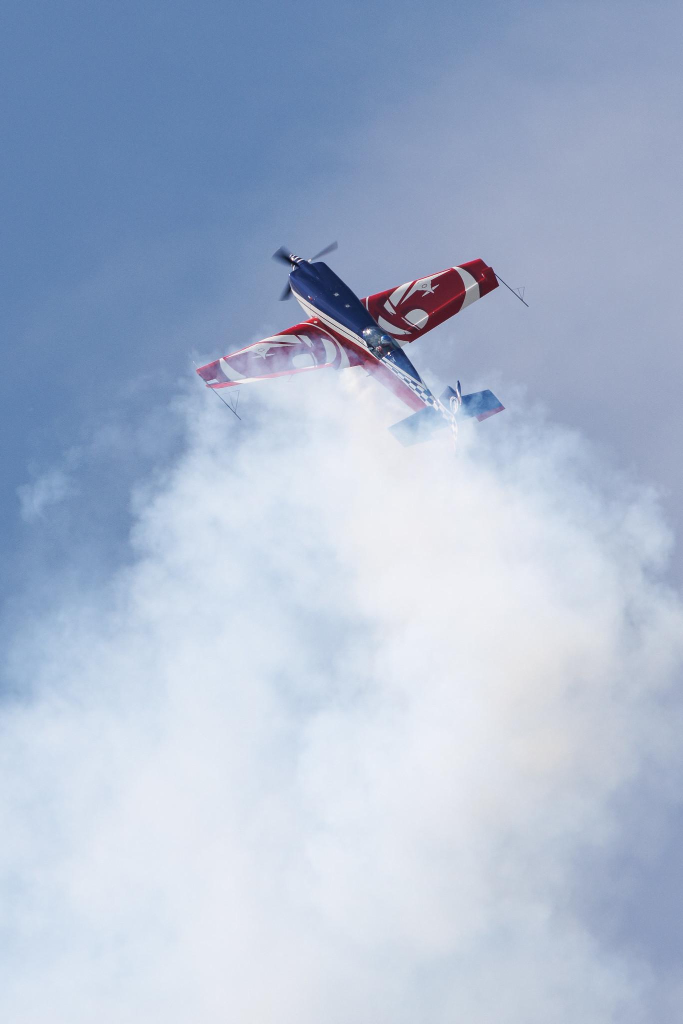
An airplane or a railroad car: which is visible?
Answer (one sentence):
There is an airplane in the scene.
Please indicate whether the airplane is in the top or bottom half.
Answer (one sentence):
The airplane sits in the top half of the picture.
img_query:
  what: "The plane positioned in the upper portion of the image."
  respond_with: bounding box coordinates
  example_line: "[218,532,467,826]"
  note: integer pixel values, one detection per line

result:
[190,239,526,454]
